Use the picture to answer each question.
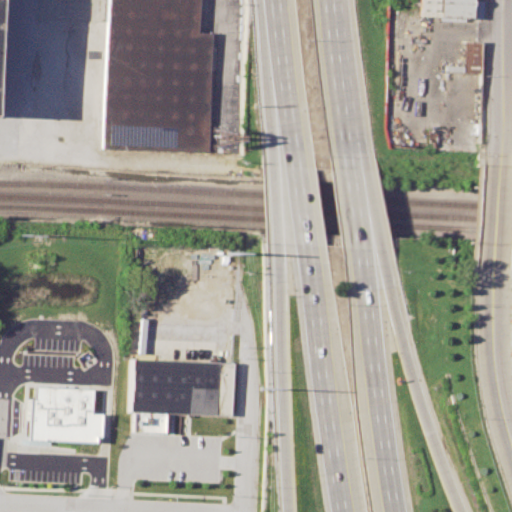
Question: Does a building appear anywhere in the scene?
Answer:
Yes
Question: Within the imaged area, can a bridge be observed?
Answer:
Yes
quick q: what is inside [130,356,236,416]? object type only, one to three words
building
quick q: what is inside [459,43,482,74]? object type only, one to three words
shed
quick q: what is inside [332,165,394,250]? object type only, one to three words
bridge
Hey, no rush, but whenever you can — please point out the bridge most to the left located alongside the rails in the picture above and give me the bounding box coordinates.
[256,162,328,250]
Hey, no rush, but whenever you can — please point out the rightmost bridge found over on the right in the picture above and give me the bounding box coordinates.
[474,168,512,262]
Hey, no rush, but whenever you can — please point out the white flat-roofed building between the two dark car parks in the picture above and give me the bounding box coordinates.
[30,388,105,444]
